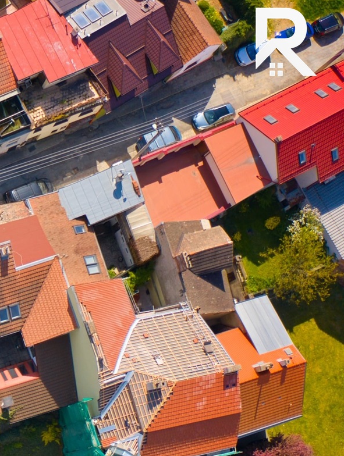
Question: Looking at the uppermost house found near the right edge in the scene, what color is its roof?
red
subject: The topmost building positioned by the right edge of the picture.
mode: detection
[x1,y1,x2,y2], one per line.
[232,61,344,206]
